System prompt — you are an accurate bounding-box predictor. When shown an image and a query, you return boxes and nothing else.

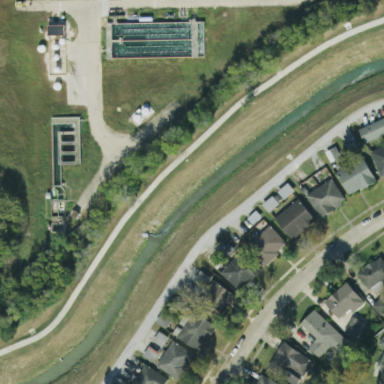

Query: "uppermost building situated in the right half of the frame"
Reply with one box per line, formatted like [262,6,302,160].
[359,118,384,142]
